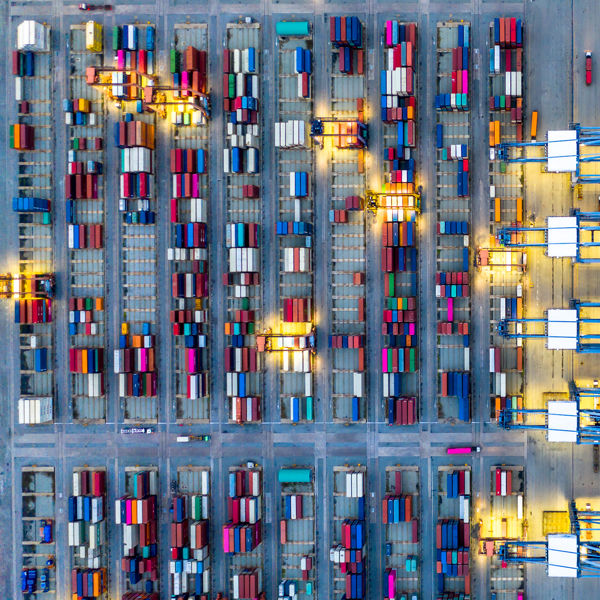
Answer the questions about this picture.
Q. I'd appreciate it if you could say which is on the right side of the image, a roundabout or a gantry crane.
gantry crane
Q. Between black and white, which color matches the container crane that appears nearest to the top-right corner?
white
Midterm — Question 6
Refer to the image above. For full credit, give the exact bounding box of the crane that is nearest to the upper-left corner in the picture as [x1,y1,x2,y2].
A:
[84,66,158,105]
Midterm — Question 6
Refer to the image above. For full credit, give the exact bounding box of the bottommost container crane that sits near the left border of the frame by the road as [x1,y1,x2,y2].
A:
[0,270,54,301]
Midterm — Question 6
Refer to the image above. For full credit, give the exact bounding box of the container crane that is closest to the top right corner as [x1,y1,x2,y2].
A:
[494,122,600,200]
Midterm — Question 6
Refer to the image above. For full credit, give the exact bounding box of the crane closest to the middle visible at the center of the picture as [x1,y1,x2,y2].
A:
[254,324,316,356]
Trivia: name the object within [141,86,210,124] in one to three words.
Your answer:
container crane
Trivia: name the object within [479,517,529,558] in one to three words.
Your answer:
container crane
